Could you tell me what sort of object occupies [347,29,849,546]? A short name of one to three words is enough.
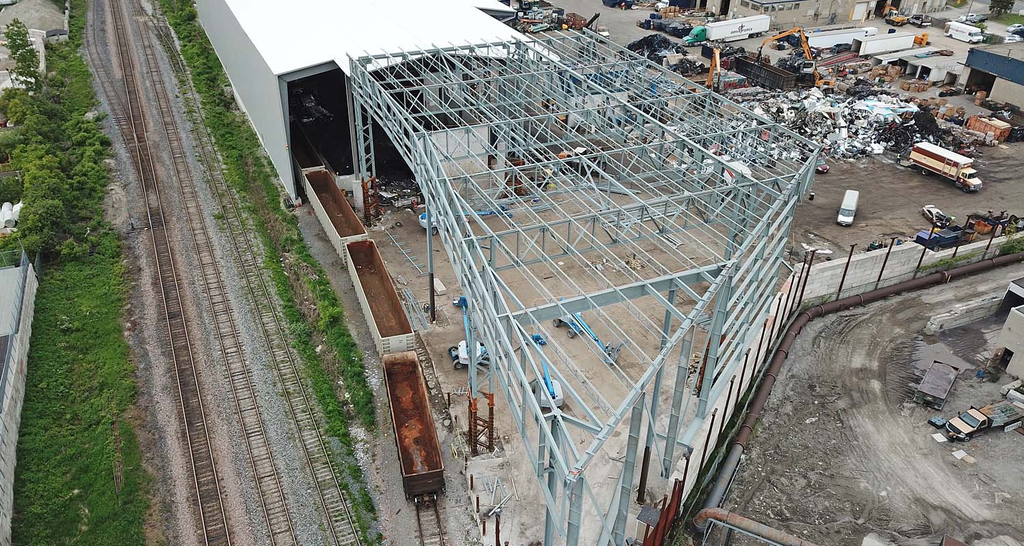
building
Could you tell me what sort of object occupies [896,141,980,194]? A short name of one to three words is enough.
truck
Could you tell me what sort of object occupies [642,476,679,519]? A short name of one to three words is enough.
shed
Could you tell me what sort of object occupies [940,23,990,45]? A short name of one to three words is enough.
vehicle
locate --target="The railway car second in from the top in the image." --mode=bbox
[304,168,368,260]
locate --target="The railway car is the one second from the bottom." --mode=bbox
[345,239,417,369]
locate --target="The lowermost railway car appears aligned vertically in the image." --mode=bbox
[383,352,446,508]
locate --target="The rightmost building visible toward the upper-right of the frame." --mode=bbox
[959,41,1024,113]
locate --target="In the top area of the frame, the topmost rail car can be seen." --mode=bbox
[293,116,327,185]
